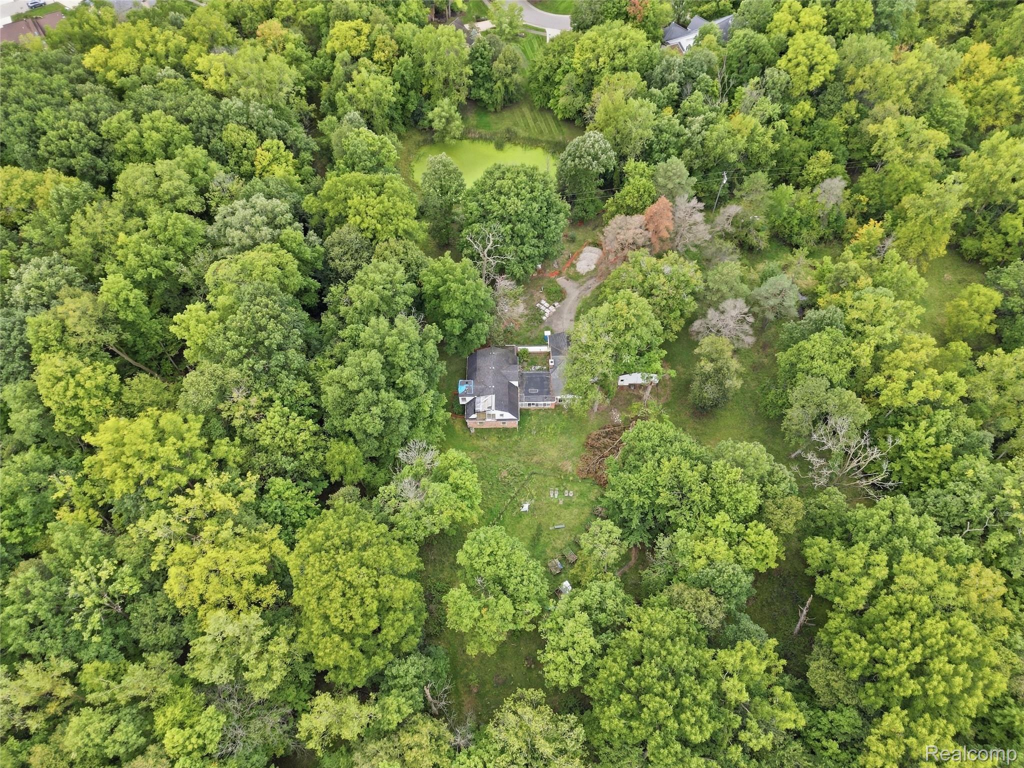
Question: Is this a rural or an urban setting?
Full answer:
It looks rural.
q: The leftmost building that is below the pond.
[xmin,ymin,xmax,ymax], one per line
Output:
[459,343,552,428]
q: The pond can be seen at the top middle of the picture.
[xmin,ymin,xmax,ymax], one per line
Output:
[413,142,560,189]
